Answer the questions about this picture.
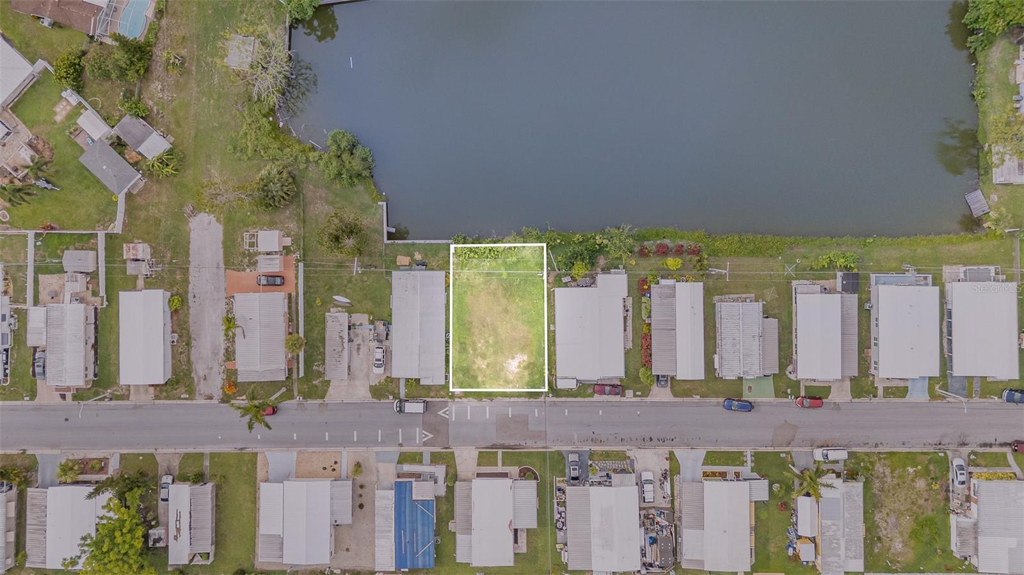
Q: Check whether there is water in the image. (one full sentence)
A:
Yes, some water is visible.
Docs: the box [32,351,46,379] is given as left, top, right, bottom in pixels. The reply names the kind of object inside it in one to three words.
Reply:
car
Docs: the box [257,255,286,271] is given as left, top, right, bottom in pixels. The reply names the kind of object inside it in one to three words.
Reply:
shed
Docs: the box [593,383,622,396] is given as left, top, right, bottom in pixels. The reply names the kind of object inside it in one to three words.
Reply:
vehicle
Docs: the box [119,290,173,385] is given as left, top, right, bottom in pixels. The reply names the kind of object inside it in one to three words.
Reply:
house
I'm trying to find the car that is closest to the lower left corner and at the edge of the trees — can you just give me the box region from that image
[158,474,174,502]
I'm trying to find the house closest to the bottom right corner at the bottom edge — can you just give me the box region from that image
[942,476,1024,573]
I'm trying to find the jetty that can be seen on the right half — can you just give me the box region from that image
[963,190,990,217]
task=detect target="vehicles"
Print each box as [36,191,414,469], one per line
[1001,389,1024,403]
[795,395,823,409]
[593,383,622,396]
[812,447,847,462]
[158,474,174,502]
[656,375,669,391]
[394,399,428,414]
[567,452,581,483]
[256,273,285,287]
[32,351,46,379]
[372,345,386,375]
[640,470,654,504]
[1008,439,1024,453]
[723,397,753,411]
[950,457,966,487]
